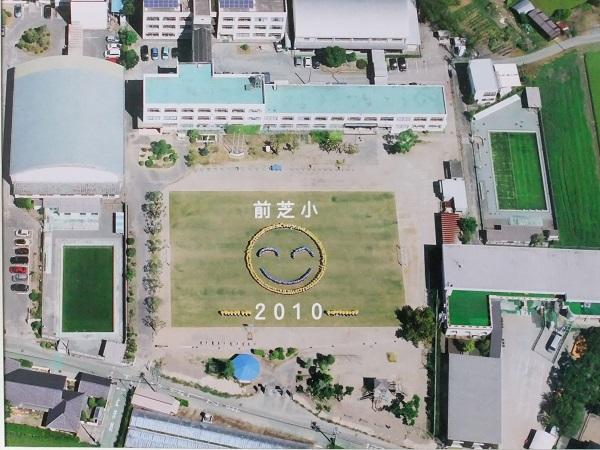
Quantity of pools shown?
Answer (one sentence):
In total, 2 pools can be seen.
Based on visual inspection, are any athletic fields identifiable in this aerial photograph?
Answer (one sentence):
Yes, an athletic field is visible in the scene.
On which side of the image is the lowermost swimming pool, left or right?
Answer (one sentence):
You can find the lowermost swimming pool on the left side of the picture.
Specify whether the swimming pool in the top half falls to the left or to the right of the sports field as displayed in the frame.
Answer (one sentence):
The sports field has the swimming pool in the top half on its right side.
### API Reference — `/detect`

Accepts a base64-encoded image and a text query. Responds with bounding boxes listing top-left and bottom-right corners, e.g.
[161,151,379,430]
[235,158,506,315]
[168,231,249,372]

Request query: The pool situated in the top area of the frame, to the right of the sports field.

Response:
[472,104,554,230]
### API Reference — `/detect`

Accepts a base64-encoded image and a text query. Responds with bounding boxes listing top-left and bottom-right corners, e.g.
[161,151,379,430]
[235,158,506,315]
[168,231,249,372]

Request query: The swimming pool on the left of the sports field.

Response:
[45,232,124,347]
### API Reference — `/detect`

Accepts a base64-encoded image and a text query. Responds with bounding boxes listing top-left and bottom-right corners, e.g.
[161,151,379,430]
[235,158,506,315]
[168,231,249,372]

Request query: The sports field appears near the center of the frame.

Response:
[169,191,405,327]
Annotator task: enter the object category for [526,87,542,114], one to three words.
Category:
shed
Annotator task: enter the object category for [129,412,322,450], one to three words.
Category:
greenhouse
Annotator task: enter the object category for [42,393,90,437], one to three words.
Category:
house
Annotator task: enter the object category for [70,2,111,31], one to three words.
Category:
building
